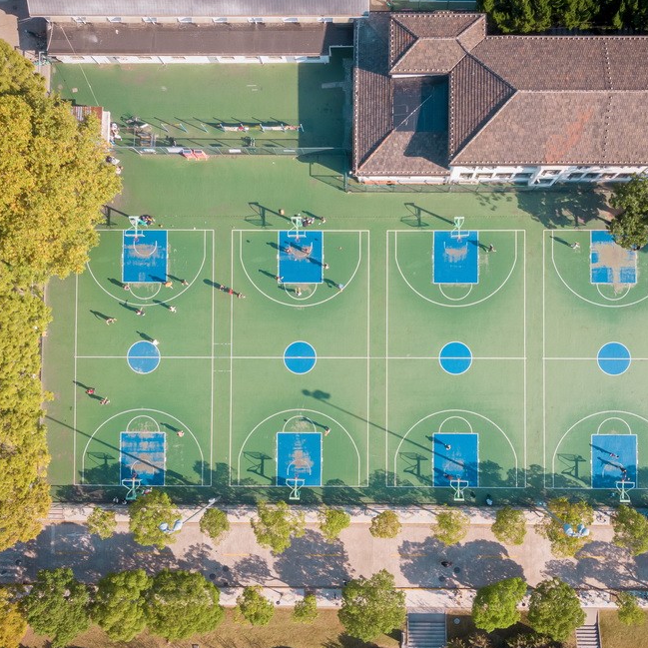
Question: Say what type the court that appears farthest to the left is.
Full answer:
The court that appears farthest to the left is a basketball court.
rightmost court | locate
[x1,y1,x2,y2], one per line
[541,227,648,491]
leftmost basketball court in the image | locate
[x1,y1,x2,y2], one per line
[71,226,218,491]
